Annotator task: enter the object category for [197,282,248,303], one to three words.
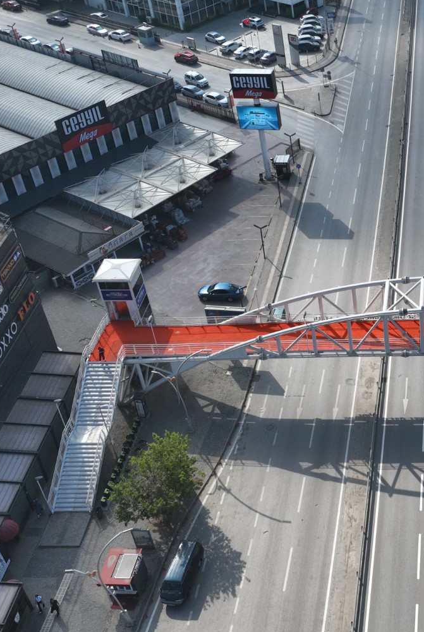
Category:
car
